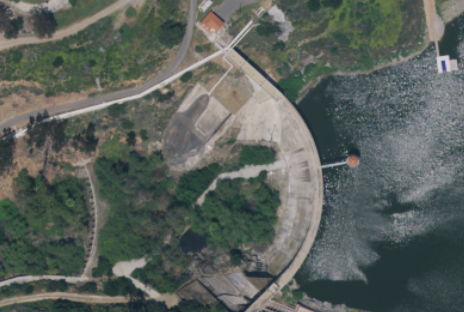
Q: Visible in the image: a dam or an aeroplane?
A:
dam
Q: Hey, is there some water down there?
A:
Yes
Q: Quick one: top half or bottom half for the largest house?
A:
top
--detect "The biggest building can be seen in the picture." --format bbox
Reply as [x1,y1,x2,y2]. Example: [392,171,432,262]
[199,10,224,35]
